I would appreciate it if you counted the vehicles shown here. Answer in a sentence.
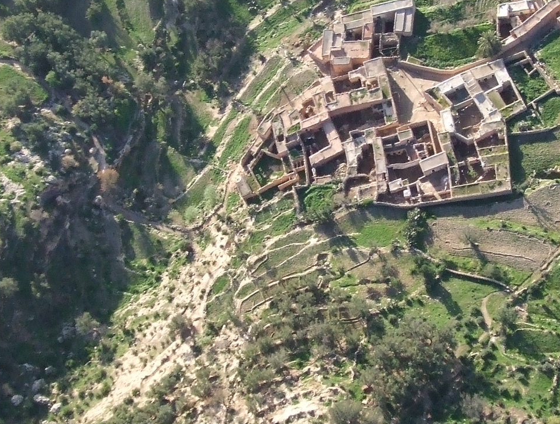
The picture shows no vehicles.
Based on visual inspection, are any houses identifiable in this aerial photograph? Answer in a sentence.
Yes, the image includes a house.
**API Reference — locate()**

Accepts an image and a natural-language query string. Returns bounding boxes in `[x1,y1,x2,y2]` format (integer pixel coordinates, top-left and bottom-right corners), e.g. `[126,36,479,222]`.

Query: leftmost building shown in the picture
[272,112,313,187]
